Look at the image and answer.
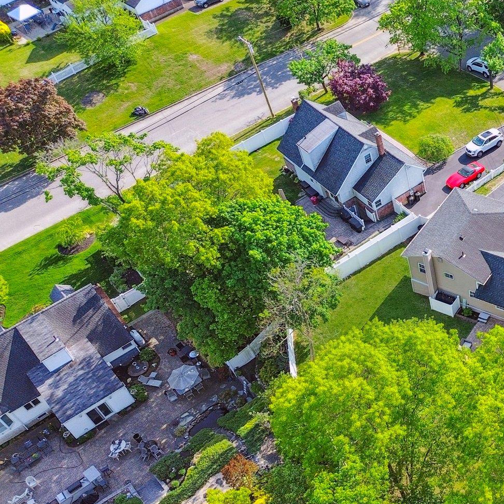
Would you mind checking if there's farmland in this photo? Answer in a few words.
No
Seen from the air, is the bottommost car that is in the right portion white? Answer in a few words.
No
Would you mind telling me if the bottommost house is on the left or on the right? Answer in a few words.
left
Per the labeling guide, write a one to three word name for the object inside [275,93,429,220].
house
